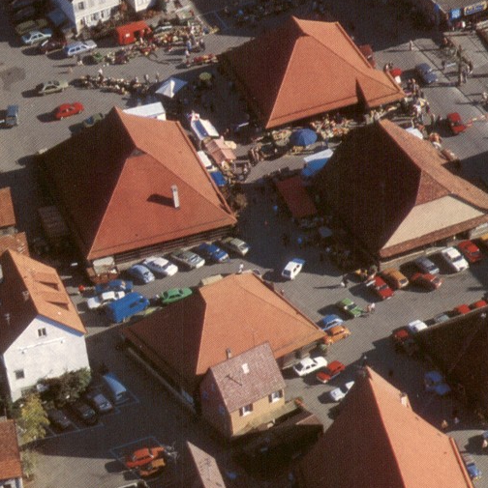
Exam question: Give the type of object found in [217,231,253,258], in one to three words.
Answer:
car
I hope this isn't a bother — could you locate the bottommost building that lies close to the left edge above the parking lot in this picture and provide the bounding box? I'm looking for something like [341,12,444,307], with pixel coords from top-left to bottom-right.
[0,248,88,398]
